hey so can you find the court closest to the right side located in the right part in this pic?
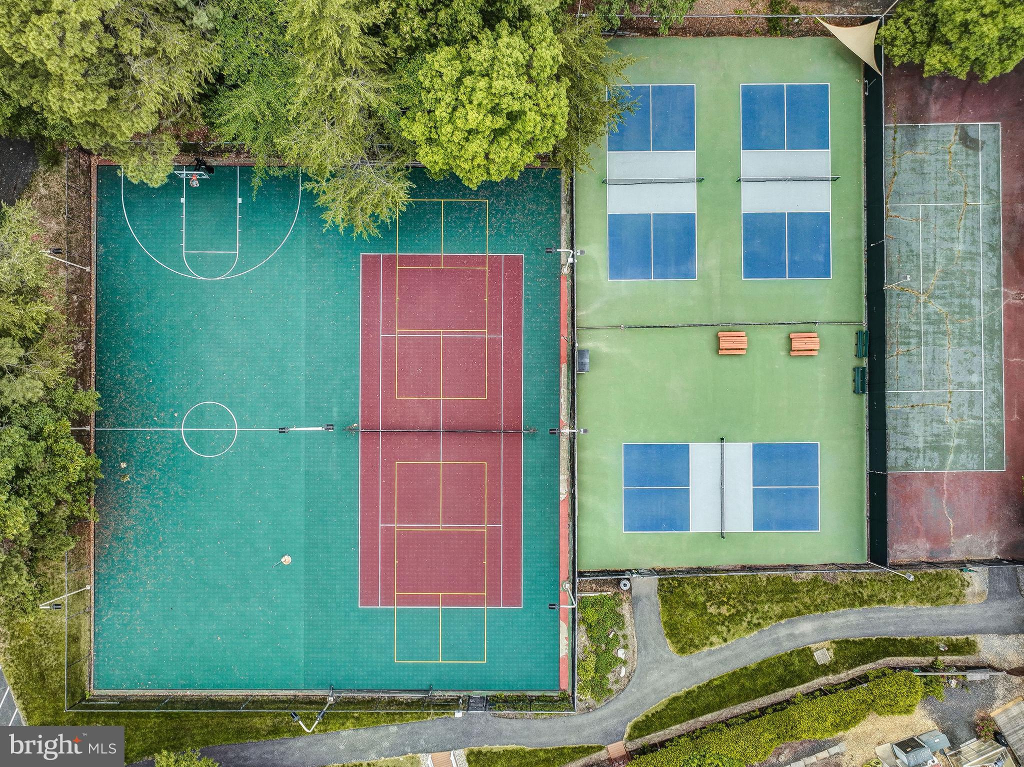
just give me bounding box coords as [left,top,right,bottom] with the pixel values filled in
[868,0,1024,560]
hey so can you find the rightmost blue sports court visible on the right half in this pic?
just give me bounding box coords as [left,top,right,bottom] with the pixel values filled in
[741,83,831,279]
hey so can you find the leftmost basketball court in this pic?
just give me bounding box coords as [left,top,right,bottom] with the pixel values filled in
[94,166,304,690]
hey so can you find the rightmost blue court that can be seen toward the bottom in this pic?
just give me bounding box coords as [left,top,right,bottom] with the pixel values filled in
[623,443,820,533]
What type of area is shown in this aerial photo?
sports ground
